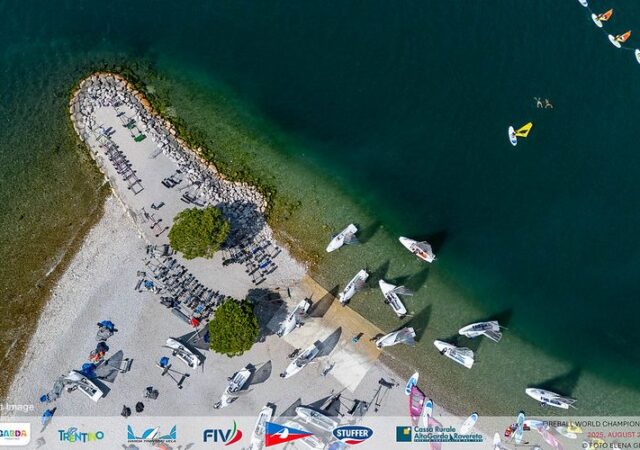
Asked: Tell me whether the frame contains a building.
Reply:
No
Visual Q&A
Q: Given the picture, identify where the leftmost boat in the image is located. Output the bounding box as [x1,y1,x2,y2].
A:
[43,372,106,408]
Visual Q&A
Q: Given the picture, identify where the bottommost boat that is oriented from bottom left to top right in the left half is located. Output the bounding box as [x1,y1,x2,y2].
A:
[216,368,256,408]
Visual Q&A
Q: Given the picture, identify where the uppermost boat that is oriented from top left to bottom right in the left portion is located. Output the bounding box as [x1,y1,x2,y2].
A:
[155,339,206,375]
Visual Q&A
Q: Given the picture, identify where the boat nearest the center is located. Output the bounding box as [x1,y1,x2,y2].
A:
[326,223,363,253]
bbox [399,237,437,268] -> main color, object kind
white boat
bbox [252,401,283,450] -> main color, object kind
white boat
